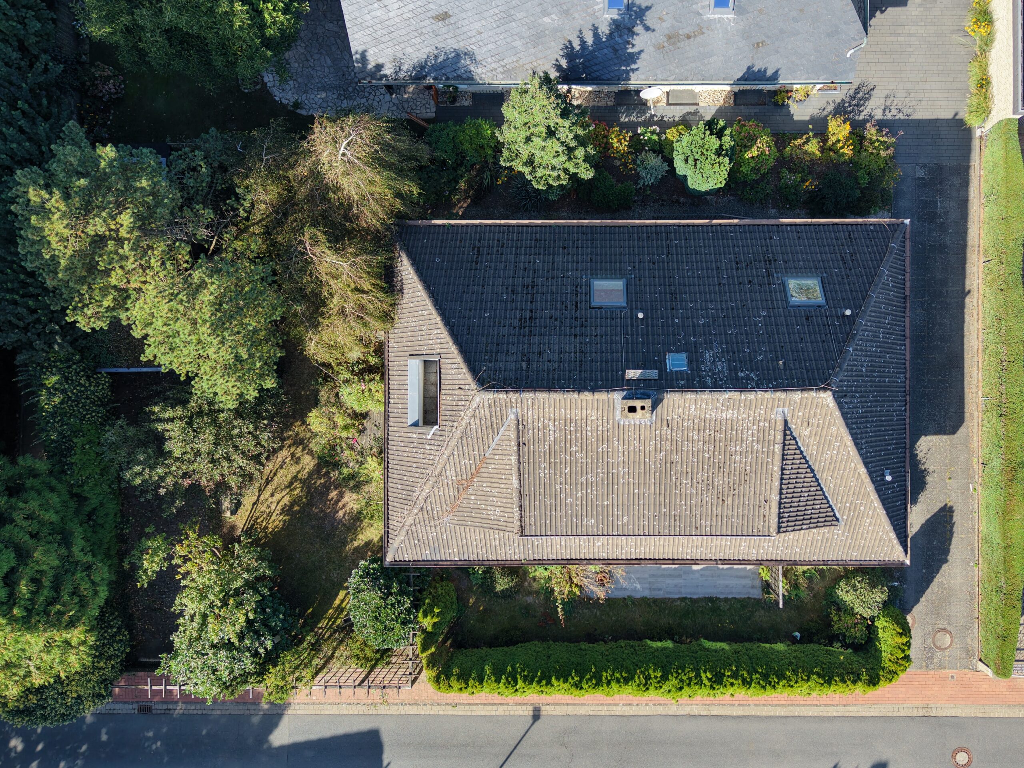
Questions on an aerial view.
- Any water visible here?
No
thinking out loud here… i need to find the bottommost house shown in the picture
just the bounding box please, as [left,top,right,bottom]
[385,220,912,566]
